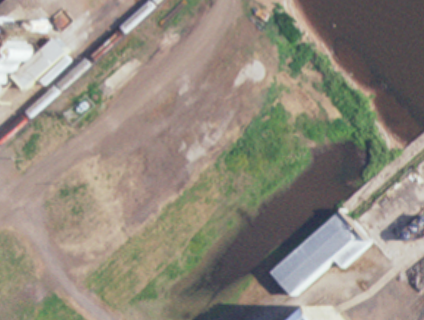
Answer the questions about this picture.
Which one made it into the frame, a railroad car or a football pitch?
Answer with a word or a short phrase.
railroad car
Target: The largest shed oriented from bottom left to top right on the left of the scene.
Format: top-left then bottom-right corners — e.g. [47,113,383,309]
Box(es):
[15,36,70,90]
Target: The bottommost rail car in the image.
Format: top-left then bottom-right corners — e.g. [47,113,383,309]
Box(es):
[22,89,60,120]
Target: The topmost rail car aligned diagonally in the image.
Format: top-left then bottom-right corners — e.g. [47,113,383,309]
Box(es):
[120,0,156,34]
